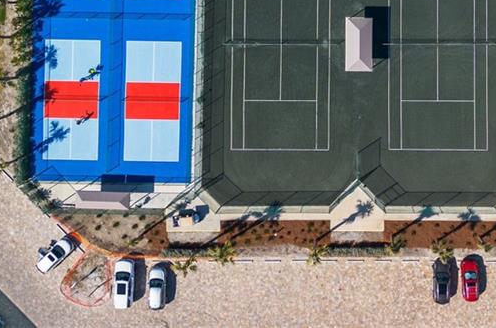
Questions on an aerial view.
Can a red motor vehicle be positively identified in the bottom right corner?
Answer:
Yes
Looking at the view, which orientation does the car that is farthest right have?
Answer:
up and down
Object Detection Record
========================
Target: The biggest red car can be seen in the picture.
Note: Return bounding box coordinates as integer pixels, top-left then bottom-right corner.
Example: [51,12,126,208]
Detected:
[459,256,481,300]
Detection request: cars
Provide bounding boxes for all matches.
[35,234,77,274]
[432,257,453,303]
[147,262,168,309]
[459,256,481,300]
[113,257,137,308]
